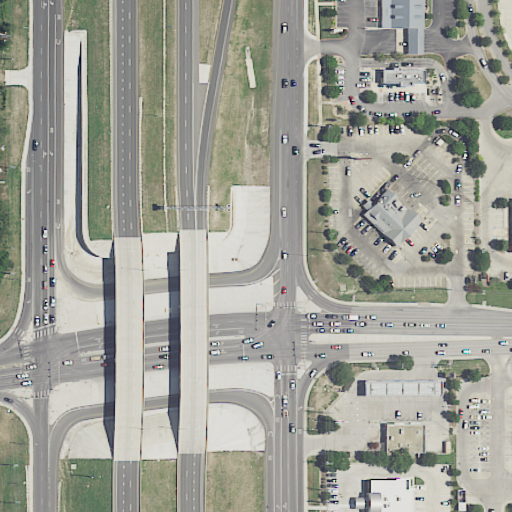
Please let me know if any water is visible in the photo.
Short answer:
No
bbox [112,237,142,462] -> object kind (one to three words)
overpass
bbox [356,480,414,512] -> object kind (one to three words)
building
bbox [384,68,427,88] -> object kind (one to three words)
building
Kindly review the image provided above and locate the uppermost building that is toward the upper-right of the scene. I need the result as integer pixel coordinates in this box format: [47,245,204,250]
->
[382,0,426,54]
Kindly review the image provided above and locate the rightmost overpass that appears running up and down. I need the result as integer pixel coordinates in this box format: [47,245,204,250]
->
[178,230,207,456]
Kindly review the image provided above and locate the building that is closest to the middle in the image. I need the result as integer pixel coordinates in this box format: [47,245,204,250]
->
[366,190,420,244]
